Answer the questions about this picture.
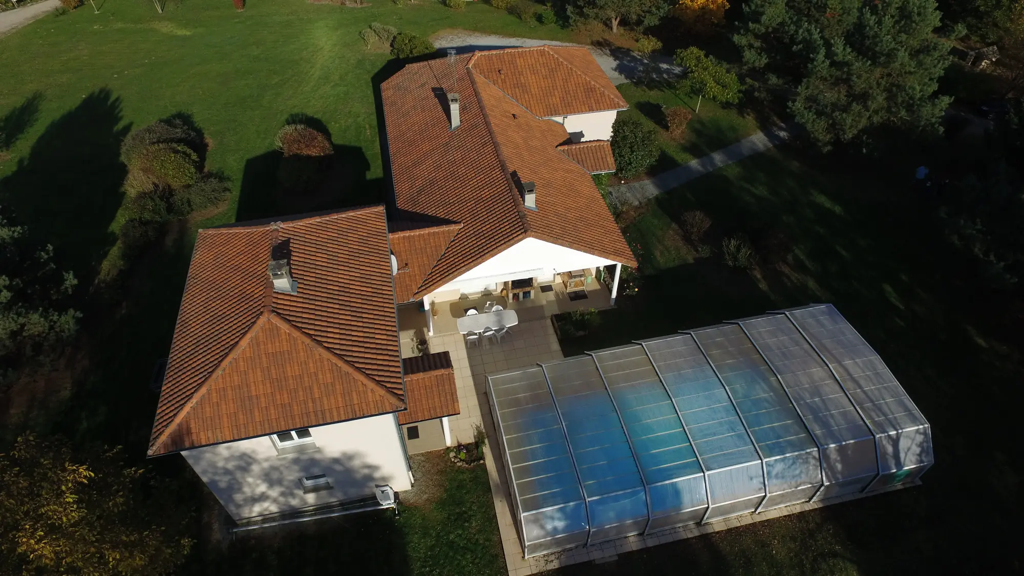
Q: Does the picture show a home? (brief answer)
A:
Yes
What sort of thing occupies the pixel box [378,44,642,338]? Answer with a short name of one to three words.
house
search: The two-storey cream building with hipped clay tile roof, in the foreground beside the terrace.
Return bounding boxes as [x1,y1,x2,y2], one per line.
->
[140,201,415,521]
